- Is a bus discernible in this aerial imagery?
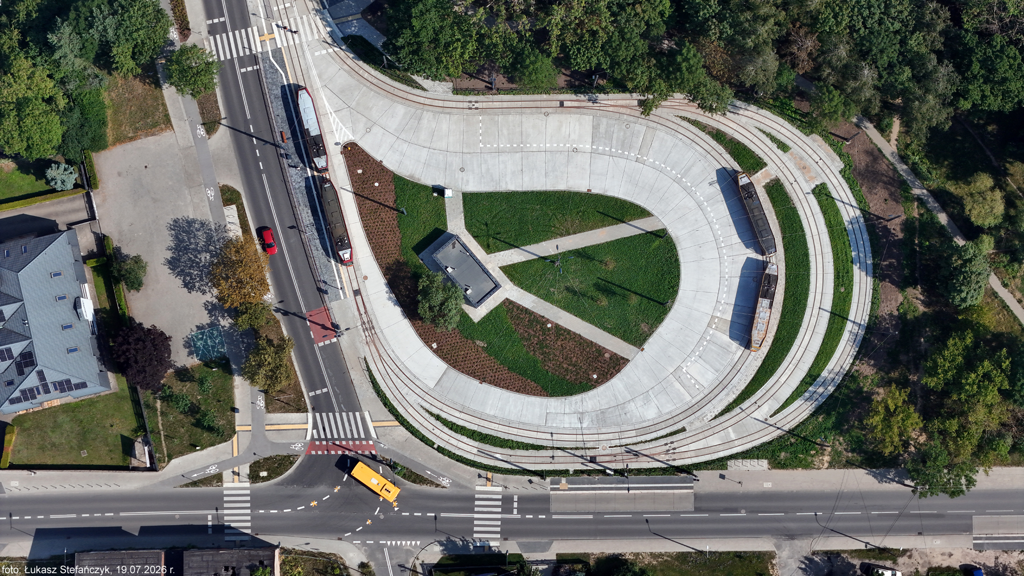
Yes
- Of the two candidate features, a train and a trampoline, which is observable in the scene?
train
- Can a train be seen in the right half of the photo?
Yes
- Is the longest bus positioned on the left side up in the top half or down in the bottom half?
bottom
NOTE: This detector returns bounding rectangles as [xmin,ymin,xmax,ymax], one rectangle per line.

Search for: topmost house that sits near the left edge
[0,228,112,414]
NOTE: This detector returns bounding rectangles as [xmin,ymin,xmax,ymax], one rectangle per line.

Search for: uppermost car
[260,229,276,254]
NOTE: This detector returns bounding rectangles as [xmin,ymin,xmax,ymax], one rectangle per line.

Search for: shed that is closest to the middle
[433,235,501,307]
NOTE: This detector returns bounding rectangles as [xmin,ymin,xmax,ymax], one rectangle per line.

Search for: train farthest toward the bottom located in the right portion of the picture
[747,262,777,350]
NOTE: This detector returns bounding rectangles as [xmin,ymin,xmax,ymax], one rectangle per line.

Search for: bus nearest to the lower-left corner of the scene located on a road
[353,462,402,503]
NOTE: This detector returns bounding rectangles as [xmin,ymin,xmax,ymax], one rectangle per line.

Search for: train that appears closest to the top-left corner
[299,89,329,176]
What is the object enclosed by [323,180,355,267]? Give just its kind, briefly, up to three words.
train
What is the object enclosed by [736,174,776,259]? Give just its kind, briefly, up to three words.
train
